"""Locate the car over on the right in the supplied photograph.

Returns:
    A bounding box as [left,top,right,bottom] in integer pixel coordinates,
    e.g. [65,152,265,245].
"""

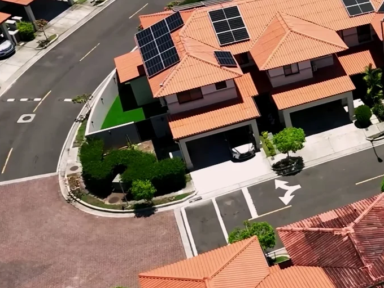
[222,124,261,159]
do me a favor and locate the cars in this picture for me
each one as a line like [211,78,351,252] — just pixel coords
[222,124,261,159]
[0,32,24,58]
